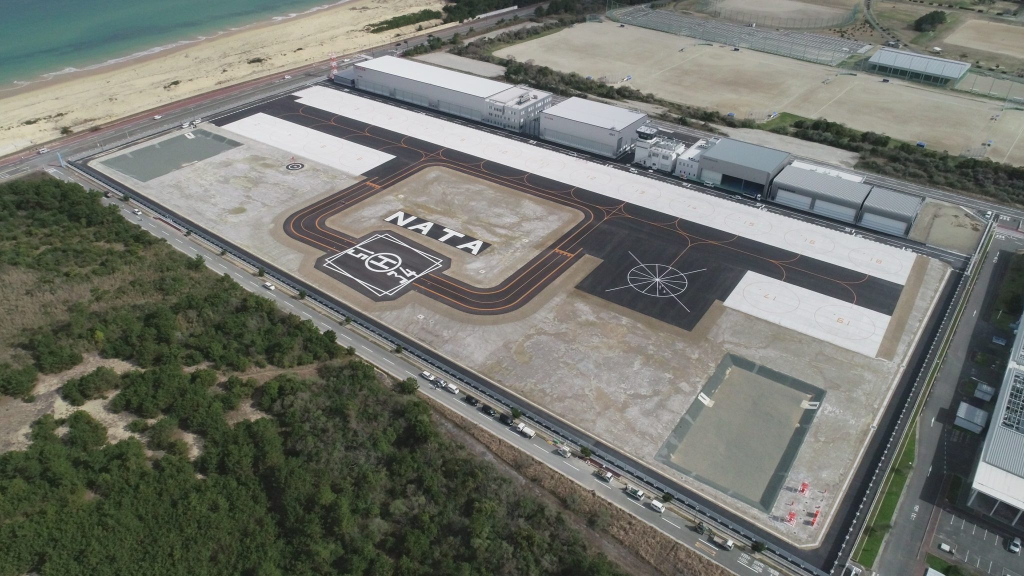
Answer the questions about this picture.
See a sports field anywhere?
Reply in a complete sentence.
Yes, the photo shows a sports field.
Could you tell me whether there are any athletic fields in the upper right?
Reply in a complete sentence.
Yes, an athletic field is visible in the upper right.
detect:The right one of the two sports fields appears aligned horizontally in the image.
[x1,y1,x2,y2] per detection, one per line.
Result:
[944,20,1024,58]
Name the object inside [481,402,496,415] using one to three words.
vehicle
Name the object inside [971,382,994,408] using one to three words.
shed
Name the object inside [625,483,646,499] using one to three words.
vehicle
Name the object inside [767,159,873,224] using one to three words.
hangar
